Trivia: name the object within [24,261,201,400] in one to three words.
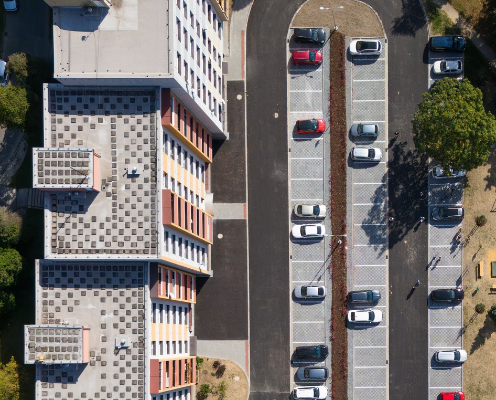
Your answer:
building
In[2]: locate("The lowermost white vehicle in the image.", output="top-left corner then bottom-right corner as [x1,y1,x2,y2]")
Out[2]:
[293,384,329,400]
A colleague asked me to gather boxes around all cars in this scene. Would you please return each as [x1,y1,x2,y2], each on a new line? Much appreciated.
[294,343,330,361]
[432,57,463,76]
[433,346,469,365]
[293,384,329,400]
[347,308,384,325]
[295,117,326,134]
[294,202,328,219]
[431,204,466,222]
[0,58,9,83]
[290,47,323,67]
[349,37,383,57]
[293,282,328,300]
[2,0,20,13]
[350,121,380,139]
[438,390,466,400]
[293,25,327,45]
[290,223,326,240]
[430,286,465,303]
[350,145,383,163]
[297,364,329,382]
[347,288,382,306]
